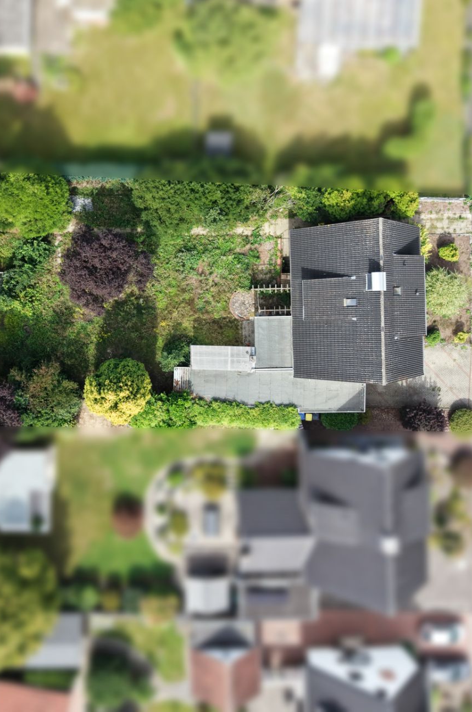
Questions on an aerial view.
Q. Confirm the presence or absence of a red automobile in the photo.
No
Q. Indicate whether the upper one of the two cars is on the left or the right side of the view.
right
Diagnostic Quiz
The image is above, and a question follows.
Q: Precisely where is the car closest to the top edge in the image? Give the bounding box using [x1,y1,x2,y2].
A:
[413,617,467,643]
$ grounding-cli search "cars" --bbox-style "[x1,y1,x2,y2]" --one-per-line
[418,654,472,682]
[413,617,467,643]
